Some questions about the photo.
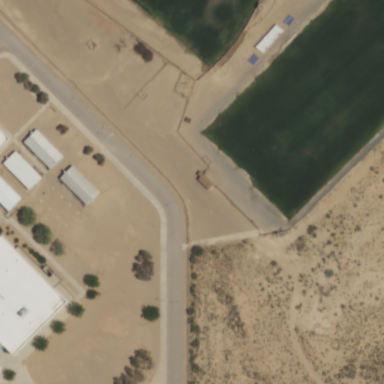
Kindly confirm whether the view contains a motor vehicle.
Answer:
No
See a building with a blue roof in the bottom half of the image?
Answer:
No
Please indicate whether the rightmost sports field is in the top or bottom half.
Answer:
top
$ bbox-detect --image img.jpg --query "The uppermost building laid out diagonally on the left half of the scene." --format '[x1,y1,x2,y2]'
[24,129,62,169]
